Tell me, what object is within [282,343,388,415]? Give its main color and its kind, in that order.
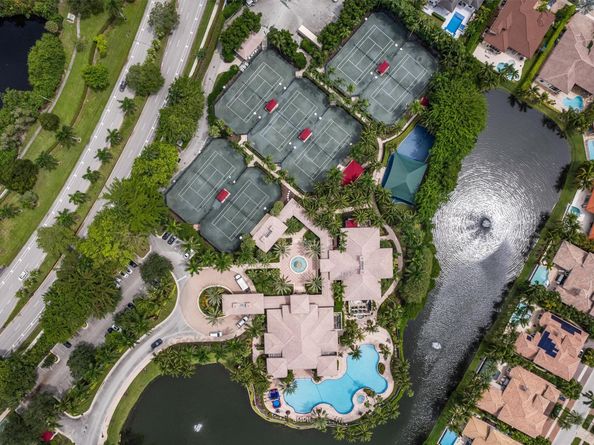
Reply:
blue swimming pool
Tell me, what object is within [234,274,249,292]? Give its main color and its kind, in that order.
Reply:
white vehicle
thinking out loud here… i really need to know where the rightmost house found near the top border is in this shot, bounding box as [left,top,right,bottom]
[534,13,594,97]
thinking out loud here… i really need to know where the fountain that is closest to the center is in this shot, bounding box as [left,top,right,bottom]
[291,256,307,273]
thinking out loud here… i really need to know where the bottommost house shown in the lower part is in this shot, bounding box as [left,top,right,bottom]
[462,416,513,445]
